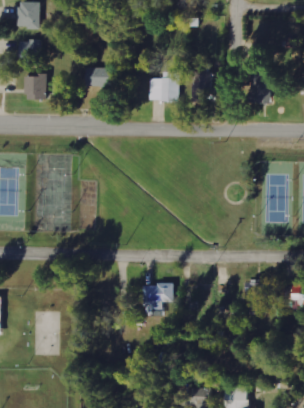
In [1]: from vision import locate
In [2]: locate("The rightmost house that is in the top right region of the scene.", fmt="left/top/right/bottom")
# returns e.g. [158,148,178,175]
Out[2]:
[252,82,274,105]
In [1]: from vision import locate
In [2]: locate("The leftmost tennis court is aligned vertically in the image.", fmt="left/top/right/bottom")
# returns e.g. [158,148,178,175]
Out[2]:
[0,153,26,230]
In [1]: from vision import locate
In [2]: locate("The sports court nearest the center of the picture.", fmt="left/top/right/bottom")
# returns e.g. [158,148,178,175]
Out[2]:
[80,181,96,230]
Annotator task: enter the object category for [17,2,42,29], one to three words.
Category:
house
